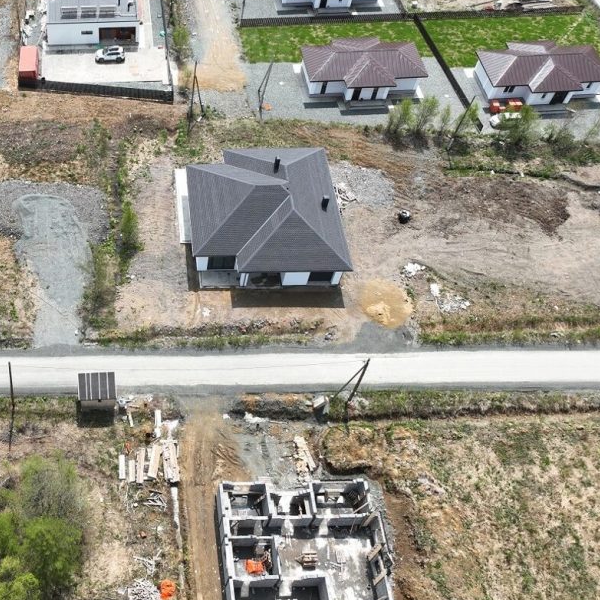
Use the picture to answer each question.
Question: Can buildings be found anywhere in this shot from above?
Yes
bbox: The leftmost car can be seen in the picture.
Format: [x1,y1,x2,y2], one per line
[96,46,124,62]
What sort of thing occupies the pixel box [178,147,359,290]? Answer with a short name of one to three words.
house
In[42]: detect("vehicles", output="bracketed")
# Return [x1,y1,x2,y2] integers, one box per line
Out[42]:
[96,46,124,62]
[490,113,522,130]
